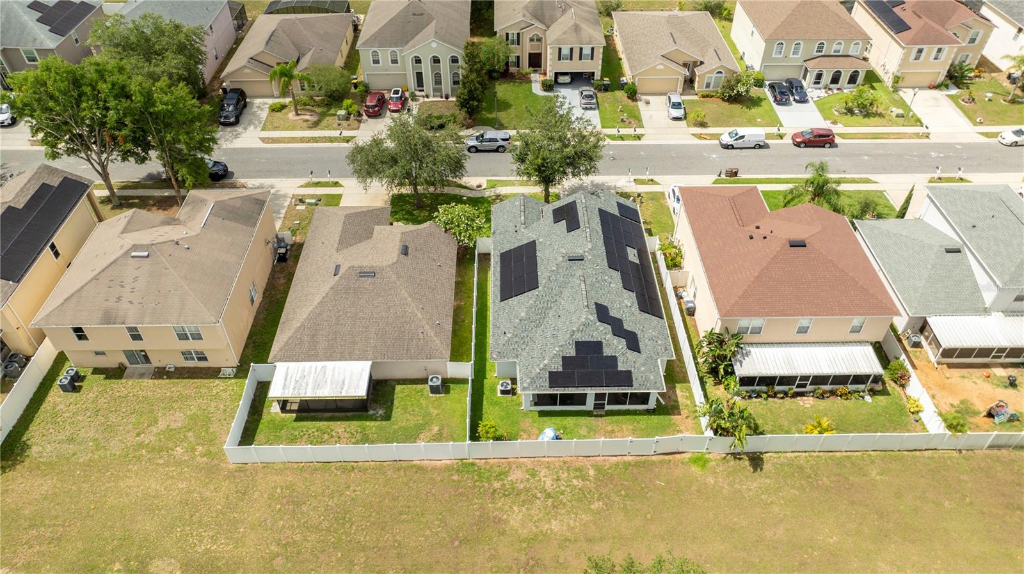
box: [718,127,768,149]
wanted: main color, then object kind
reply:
white vehicle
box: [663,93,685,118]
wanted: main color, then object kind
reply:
white car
